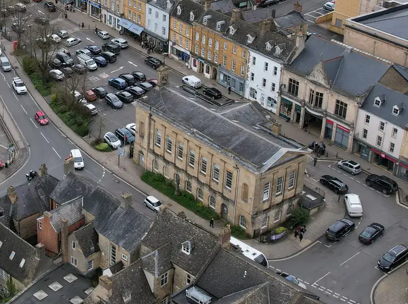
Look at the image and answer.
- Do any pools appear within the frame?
No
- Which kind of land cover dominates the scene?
buildings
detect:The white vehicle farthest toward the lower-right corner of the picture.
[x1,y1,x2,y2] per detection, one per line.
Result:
[346,195,364,217]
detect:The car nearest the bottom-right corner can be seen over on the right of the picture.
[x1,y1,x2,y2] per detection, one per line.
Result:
[382,246,408,269]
